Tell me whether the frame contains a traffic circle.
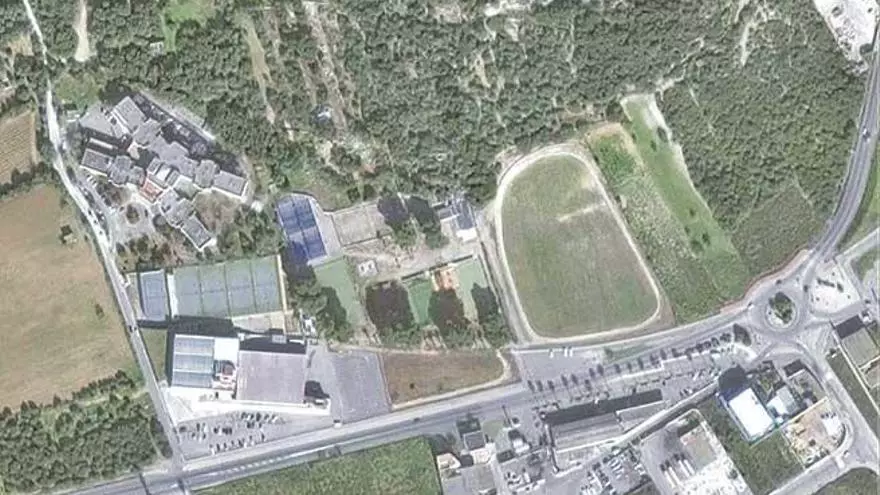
Yes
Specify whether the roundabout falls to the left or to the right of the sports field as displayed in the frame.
right of it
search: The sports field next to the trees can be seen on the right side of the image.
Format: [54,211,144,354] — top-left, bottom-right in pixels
[495,150,660,342]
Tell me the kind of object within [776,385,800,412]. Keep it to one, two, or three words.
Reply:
house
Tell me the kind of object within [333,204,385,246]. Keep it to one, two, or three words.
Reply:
sports court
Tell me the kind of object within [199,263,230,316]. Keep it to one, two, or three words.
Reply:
tennis court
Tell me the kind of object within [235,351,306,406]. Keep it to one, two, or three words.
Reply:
building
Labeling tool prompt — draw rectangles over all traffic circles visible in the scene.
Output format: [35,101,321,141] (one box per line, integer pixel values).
[751,277,813,339]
